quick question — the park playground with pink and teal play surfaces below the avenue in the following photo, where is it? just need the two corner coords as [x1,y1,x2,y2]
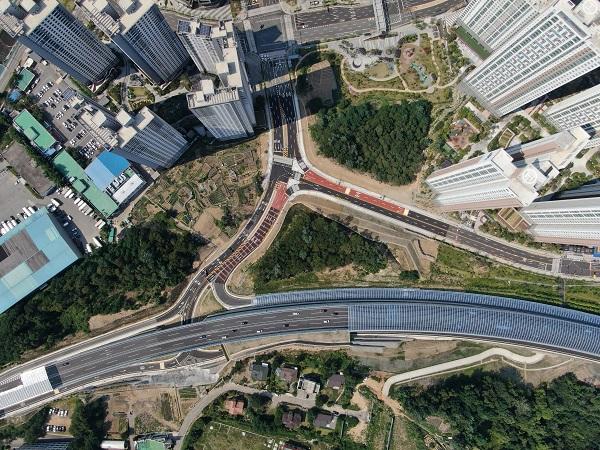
[348,44,434,87]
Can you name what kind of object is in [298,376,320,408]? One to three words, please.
house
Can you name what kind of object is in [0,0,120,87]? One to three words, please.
building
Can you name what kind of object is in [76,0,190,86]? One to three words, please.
building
